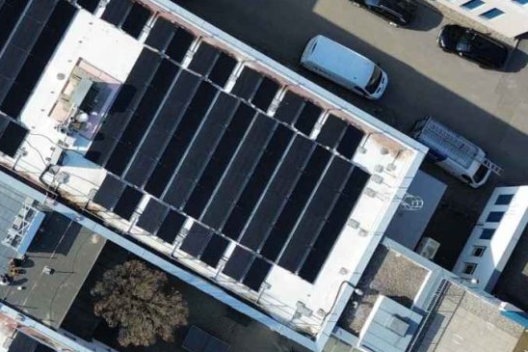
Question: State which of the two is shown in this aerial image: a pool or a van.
van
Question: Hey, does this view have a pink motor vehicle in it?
No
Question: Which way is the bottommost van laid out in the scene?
on a diagonal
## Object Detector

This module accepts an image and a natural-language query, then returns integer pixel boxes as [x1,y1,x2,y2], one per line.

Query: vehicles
[345,0,419,29]
[298,35,386,98]
[434,24,513,70]
[408,120,509,190]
